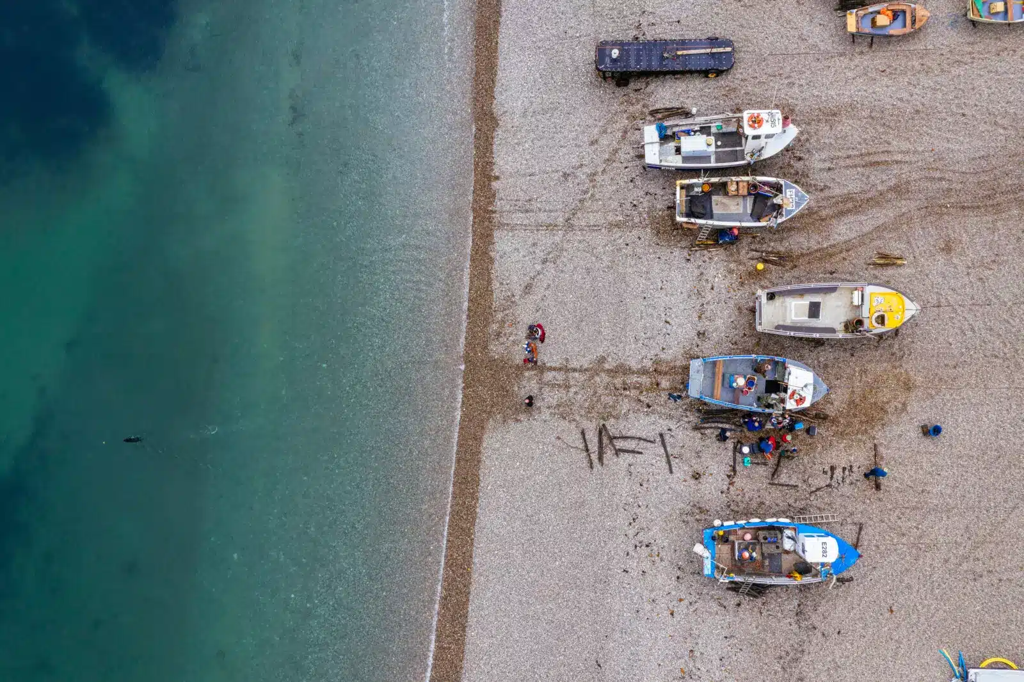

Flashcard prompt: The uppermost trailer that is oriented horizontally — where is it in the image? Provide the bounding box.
[595,35,734,86]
